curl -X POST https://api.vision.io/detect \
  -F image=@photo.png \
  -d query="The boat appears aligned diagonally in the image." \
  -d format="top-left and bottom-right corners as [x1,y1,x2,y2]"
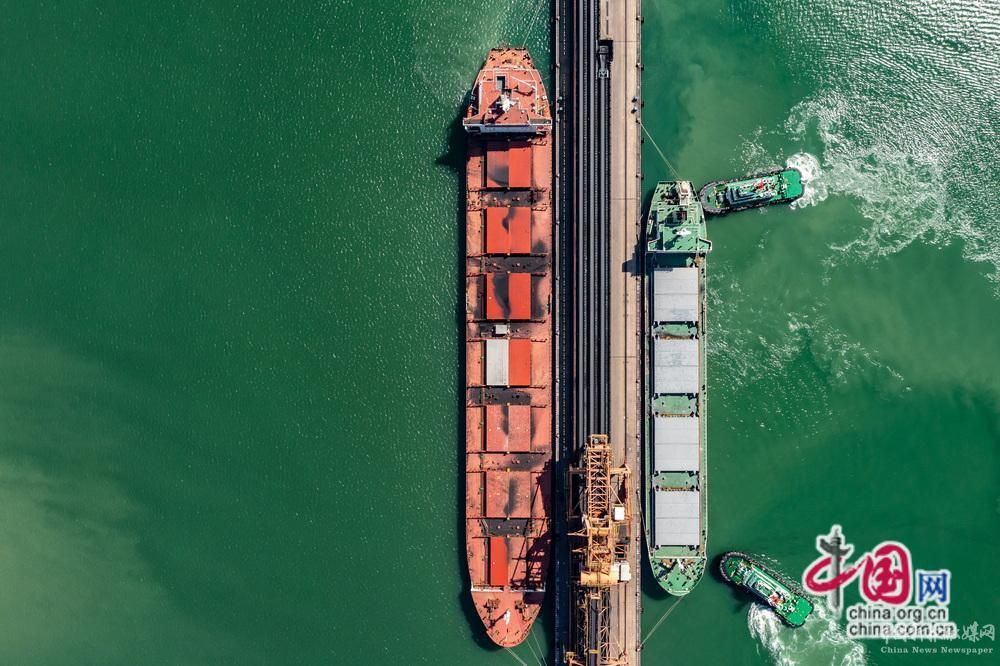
[719,558,815,630]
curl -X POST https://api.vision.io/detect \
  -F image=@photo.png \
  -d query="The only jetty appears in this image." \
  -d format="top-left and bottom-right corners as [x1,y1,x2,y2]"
[553,0,641,666]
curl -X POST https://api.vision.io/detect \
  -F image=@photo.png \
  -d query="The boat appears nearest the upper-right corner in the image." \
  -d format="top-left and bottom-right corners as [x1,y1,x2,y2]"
[700,169,806,212]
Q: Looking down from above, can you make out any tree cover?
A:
No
